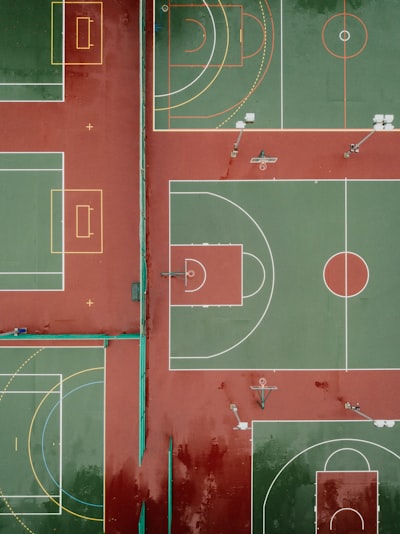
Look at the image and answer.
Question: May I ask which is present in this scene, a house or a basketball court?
basketball court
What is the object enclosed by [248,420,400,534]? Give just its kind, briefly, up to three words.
basketball court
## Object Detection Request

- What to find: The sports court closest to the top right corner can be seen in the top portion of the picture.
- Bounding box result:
[153,0,400,131]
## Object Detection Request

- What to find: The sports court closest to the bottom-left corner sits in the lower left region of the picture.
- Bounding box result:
[0,347,105,534]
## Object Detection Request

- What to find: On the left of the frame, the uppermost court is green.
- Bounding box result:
[0,0,102,102]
